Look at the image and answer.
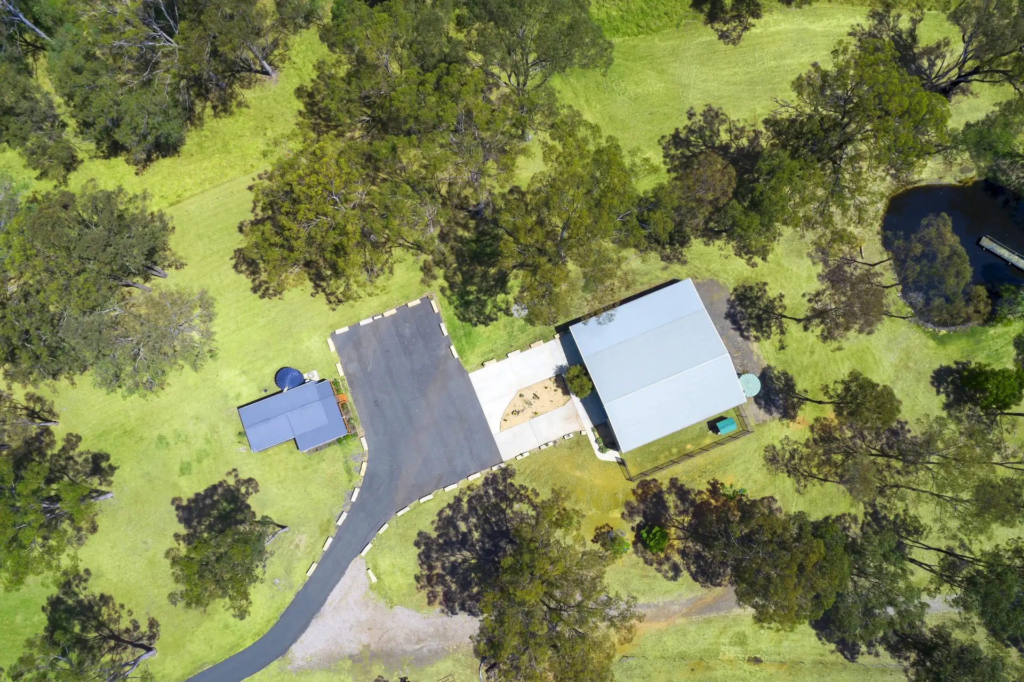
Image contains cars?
No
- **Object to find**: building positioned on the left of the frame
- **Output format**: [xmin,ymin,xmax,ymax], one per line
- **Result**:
[238,380,352,453]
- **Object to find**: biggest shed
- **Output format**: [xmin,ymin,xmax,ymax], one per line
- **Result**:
[568,277,748,454]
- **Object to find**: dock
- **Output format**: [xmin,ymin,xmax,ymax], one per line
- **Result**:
[976,235,1024,268]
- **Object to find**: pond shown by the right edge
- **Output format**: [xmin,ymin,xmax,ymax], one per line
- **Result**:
[883,177,1024,325]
